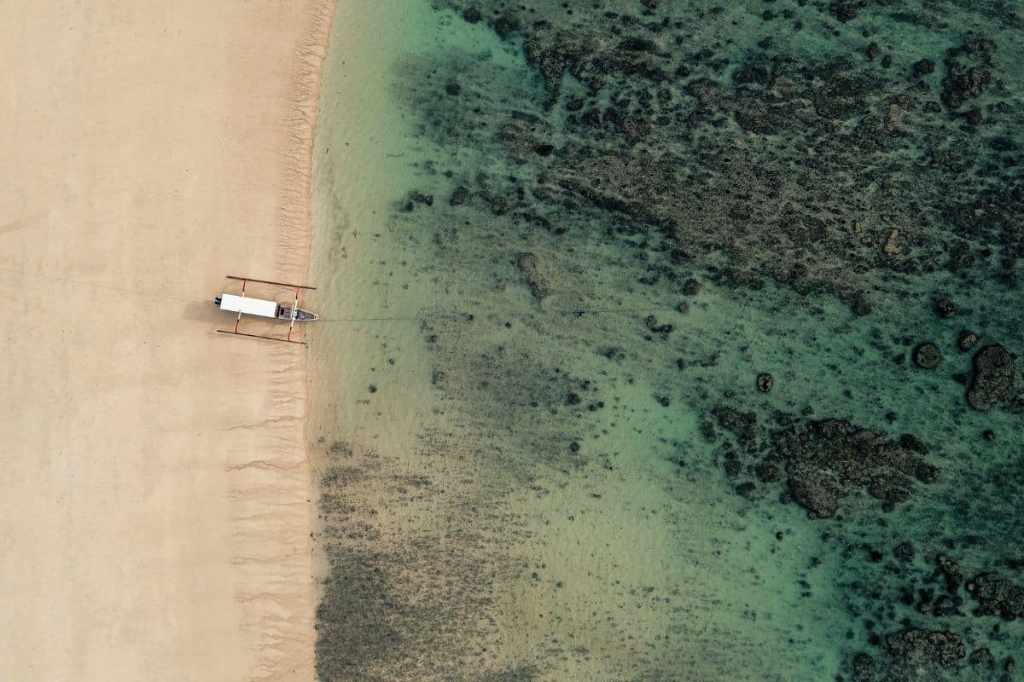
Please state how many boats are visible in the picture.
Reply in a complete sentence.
In total, 1 boat can be seen.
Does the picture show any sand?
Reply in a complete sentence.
Yes, the picture does contain sand.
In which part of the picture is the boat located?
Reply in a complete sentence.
The boat sits in the left section of the image.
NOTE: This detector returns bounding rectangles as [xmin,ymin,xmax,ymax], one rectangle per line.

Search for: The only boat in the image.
[212,275,322,344]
